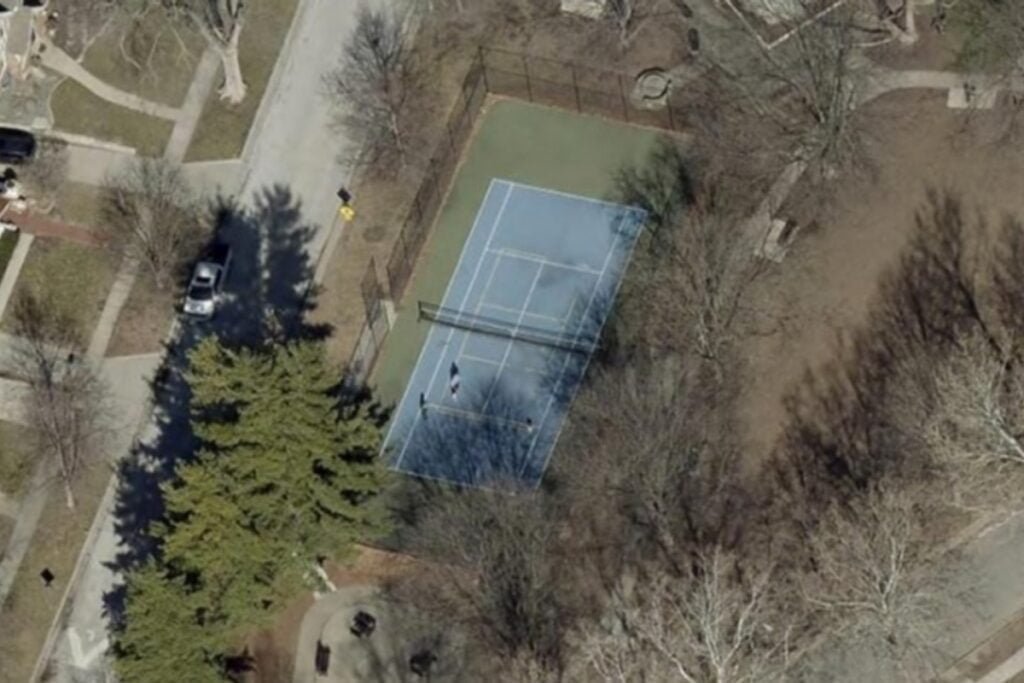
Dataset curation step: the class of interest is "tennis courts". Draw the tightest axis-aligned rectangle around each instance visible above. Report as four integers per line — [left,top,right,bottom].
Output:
[328,102,709,570]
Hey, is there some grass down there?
Yes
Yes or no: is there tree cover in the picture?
Yes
